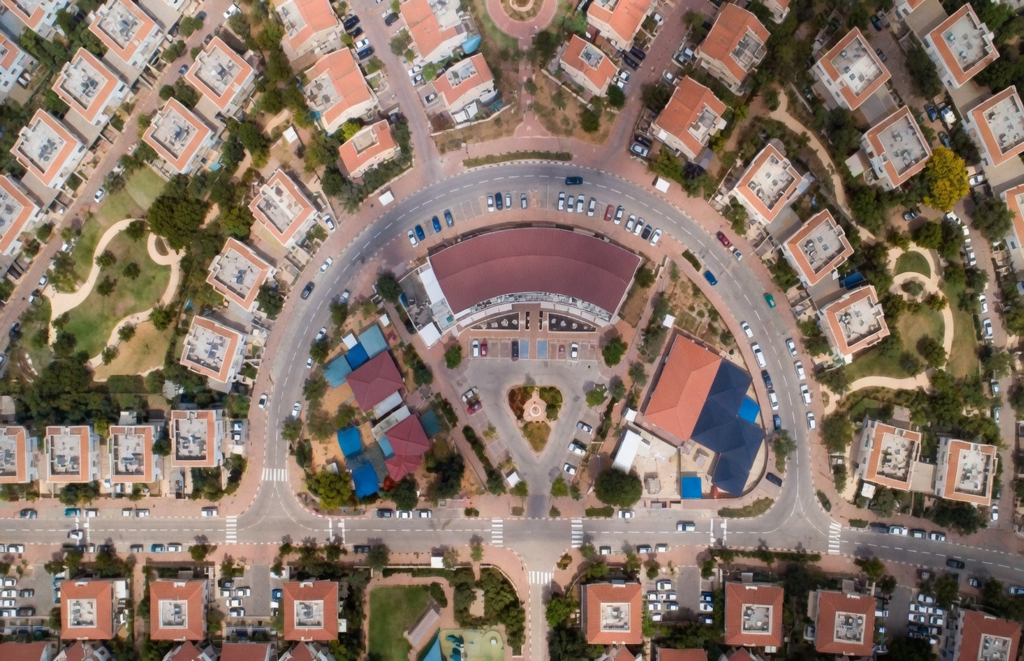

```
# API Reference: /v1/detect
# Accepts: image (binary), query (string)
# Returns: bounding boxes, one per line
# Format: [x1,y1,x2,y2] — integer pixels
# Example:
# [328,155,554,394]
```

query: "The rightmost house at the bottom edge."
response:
[942,607,1021,661]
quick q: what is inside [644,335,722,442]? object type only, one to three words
building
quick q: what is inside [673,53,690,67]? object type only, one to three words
car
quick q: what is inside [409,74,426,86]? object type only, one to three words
vehicle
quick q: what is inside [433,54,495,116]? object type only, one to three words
house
